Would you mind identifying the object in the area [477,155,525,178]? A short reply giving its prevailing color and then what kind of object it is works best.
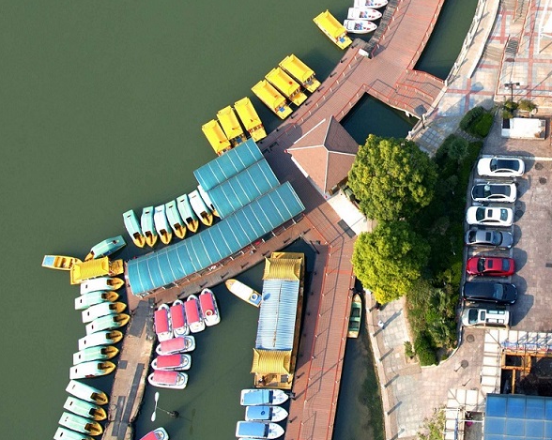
white car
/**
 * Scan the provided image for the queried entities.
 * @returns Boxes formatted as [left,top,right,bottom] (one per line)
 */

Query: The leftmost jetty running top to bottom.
[104,306,158,427]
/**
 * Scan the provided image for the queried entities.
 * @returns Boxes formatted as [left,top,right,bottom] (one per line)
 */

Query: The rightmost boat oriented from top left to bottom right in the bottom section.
[227,280,263,308]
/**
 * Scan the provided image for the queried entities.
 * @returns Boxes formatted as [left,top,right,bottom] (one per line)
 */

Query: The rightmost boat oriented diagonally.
[313,7,352,49]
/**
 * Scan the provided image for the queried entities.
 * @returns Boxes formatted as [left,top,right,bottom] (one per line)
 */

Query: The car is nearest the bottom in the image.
[462,303,512,329]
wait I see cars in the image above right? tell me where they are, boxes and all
[466,253,516,277]
[477,155,525,178]
[471,180,518,204]
[463,280,518,305]
[466,226,514,250]
[466,203,513,228]
[462,303,512,329]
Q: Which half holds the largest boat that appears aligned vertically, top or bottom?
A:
bottom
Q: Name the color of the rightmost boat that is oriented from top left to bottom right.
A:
yellow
